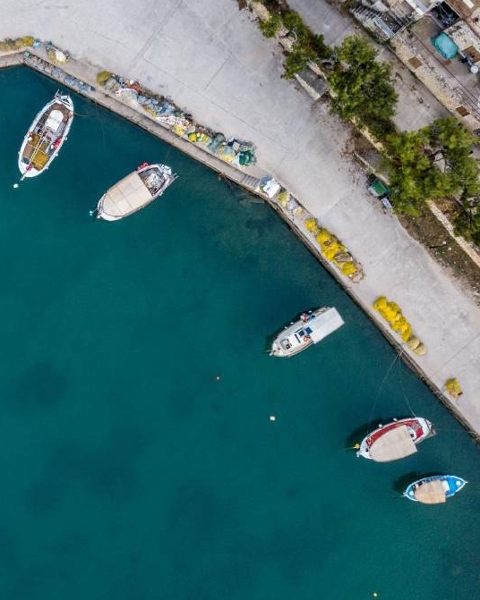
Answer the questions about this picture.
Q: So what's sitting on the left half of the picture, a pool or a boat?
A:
boat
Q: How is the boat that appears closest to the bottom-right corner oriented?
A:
horizontally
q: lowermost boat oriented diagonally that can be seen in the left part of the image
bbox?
[92,165,186,220]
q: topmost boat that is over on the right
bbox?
[268,302,347,356]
